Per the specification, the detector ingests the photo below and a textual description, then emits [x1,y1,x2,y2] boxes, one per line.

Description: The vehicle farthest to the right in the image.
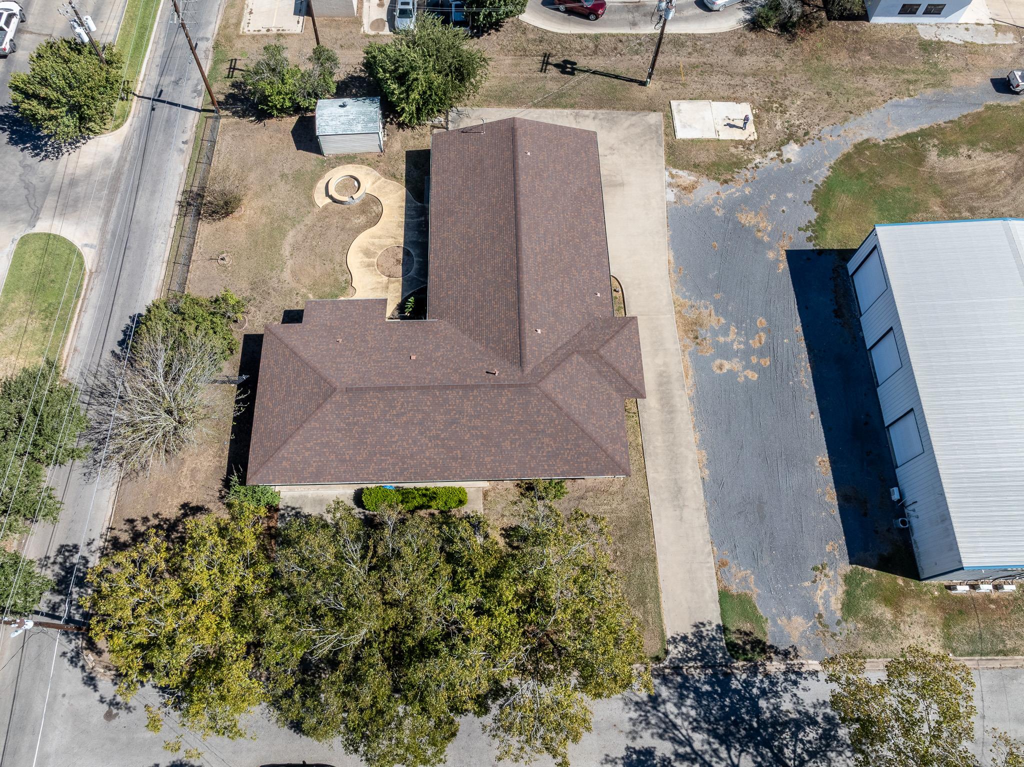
[1003,71,1024,97]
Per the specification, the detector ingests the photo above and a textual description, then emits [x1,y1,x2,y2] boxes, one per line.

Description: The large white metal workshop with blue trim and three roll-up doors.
[848,215,1024,600]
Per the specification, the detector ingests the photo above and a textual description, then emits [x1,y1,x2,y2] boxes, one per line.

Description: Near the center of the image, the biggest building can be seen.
[244,118,647,488]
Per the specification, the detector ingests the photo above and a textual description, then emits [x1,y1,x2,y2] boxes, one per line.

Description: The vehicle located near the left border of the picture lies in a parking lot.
[0,2,27,57]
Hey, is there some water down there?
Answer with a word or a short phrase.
No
